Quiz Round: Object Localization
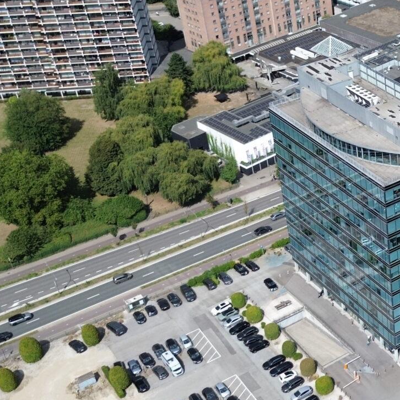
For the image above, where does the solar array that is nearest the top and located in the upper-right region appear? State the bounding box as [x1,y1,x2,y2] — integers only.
[266,29,328,53]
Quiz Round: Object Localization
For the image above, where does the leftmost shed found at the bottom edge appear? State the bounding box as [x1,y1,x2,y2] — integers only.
[69,368,102,393]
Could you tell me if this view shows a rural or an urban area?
urban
